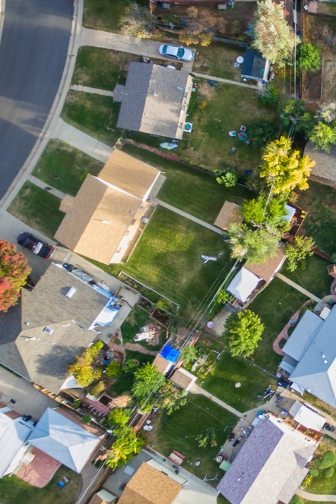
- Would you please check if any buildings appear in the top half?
Yes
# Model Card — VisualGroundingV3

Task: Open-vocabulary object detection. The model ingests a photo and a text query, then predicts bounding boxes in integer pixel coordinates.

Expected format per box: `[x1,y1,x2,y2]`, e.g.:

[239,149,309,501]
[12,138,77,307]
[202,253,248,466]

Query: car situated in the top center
[158,45,196,62]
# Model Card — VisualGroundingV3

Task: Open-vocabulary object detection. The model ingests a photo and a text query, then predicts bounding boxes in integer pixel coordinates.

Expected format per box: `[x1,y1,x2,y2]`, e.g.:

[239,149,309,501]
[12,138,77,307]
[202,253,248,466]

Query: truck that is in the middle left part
[18,232,57,261]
